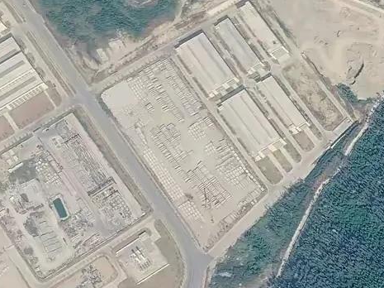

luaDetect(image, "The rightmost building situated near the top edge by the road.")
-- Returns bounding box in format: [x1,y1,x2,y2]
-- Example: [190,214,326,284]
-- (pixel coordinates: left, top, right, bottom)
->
[239,2,289,66]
